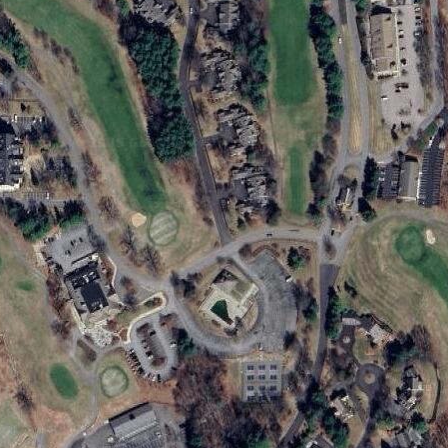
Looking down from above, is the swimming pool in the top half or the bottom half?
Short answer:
bottom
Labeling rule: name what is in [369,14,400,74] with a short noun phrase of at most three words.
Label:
building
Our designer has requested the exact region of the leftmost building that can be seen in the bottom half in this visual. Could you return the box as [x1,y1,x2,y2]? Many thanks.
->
[62,256,112,320]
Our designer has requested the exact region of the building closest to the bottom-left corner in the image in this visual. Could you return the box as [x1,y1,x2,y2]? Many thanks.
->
[108,401,157,438]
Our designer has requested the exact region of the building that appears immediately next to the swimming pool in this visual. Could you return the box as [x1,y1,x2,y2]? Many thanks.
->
[216,276,254,302]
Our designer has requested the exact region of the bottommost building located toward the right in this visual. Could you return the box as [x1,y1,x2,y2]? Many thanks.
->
[386,426,425,448]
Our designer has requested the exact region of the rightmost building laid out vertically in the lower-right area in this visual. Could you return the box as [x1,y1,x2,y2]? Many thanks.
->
[403,367,423,410]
